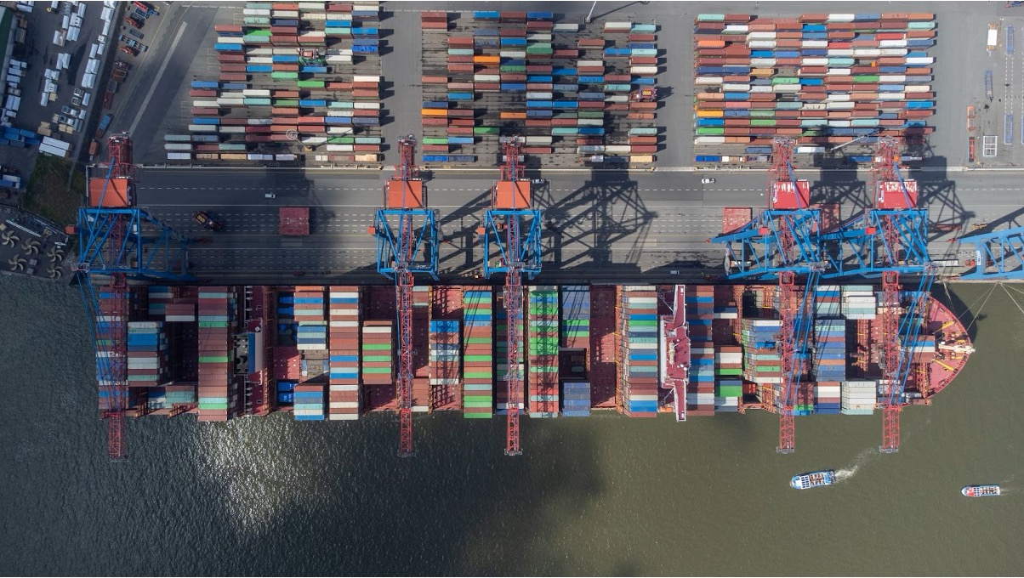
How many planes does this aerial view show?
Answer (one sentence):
The picture shows no planes.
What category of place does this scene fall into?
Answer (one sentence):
This looks like a port.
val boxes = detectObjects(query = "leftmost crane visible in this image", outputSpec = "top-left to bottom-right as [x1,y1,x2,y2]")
[64,130,207,460]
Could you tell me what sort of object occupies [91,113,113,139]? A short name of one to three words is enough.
truck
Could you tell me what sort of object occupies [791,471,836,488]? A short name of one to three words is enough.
boat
